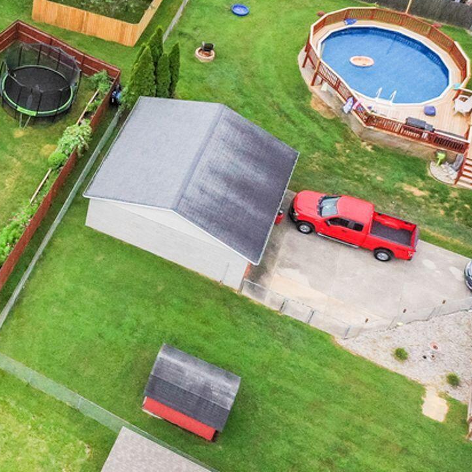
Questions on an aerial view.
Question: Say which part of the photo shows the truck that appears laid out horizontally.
right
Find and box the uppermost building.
[82,96,298,286]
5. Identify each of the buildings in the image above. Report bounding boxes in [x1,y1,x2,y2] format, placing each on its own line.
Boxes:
[82,96,298,286]
[140,348,235,443]
[105,427,225,472]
